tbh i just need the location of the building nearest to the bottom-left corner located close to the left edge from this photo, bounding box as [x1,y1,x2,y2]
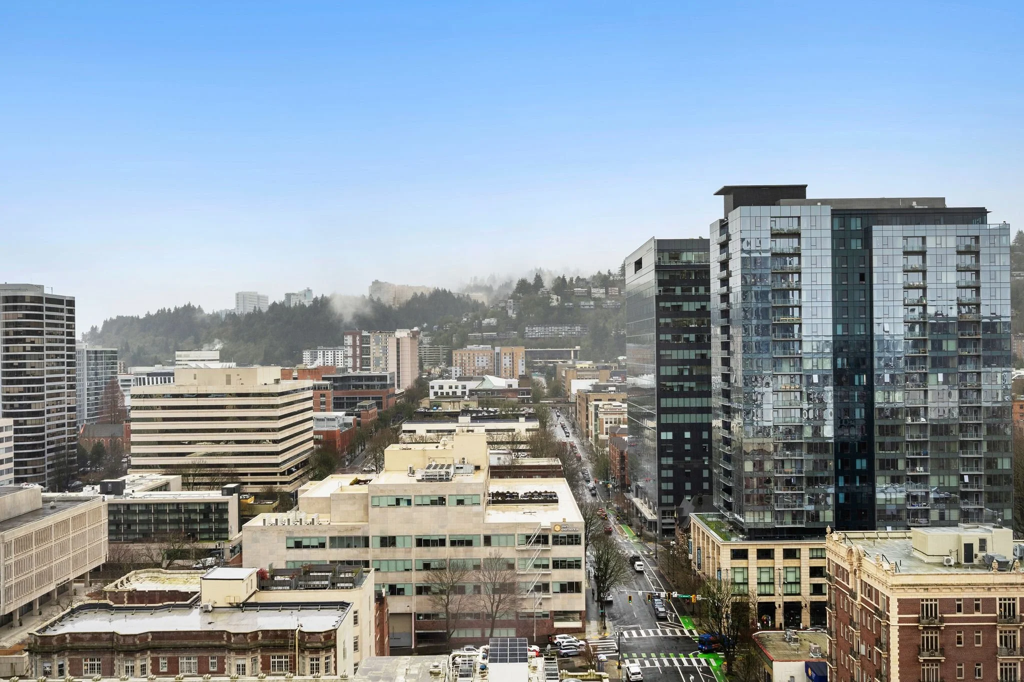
[0,505,110,648]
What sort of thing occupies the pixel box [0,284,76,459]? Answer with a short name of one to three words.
building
